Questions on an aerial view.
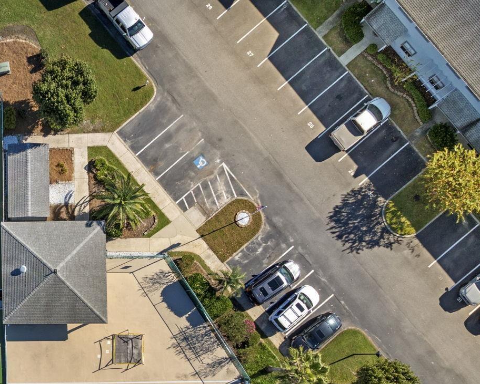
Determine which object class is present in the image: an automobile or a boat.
automobile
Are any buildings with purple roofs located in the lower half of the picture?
No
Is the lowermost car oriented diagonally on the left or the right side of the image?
right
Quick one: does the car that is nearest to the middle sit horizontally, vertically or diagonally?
diagonally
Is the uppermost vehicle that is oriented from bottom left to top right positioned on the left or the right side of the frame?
right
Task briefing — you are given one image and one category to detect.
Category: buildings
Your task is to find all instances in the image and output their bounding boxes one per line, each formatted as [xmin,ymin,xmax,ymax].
[356,0,480,162]
[7,143,48,219]
[1,220,107,324]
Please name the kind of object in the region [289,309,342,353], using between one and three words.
car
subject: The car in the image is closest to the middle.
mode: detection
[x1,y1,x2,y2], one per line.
[244,260,297,305]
